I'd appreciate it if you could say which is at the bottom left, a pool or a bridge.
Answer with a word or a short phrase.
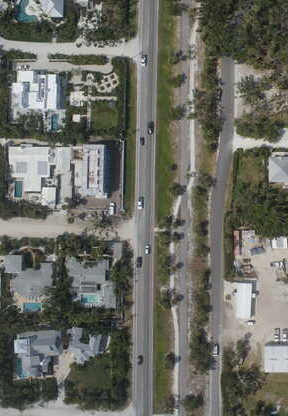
pool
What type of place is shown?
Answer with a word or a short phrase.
residential area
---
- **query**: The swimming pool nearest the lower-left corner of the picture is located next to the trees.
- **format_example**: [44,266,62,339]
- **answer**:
[13,356,56,380]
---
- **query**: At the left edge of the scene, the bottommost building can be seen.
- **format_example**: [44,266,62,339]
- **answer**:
[14,329,67,378]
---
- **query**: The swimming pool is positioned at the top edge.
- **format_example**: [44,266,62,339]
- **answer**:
[14,0,58,24]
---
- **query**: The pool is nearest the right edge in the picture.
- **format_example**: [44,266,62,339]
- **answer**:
[72,293,96,308]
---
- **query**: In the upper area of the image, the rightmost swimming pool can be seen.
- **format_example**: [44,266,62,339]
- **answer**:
[44,110,66,132]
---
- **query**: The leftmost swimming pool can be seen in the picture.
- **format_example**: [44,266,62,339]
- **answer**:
[7,177,25,201]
